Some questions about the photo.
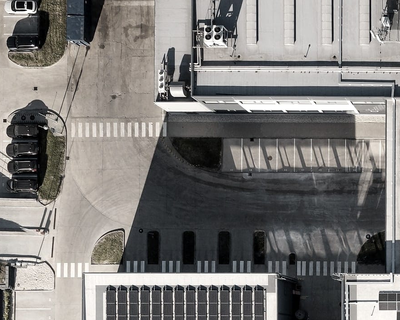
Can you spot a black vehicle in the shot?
Yes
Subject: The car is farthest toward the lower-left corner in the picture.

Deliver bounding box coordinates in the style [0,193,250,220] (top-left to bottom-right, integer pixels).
[7,177,41,194]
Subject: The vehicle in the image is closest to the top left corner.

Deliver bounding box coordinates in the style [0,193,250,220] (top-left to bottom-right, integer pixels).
[5,0,39,16]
